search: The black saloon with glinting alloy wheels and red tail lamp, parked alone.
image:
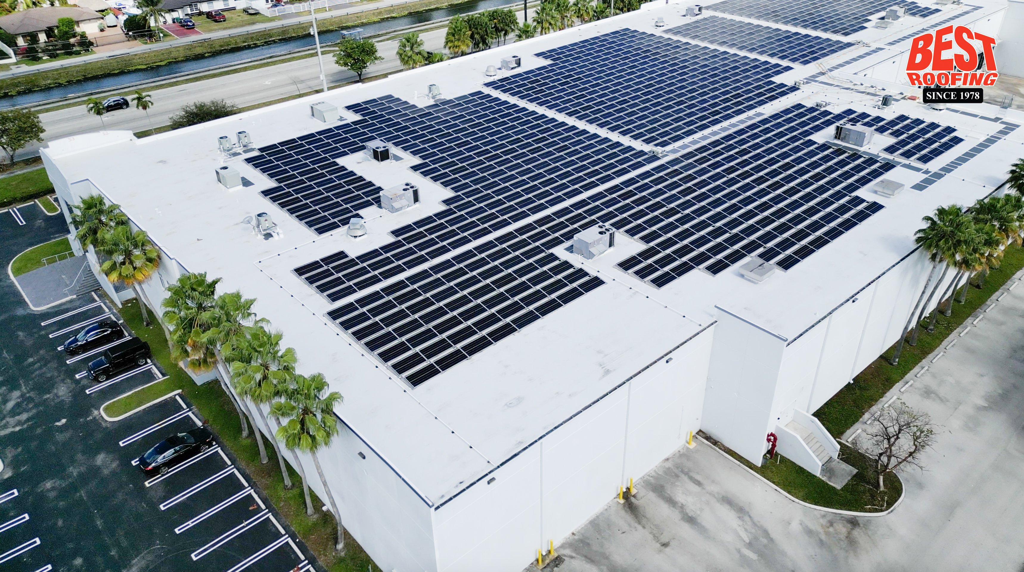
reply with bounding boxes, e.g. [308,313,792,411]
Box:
[137,430,211,475]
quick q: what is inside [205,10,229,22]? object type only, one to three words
vehicle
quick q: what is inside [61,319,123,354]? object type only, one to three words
car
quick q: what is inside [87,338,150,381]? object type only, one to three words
car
